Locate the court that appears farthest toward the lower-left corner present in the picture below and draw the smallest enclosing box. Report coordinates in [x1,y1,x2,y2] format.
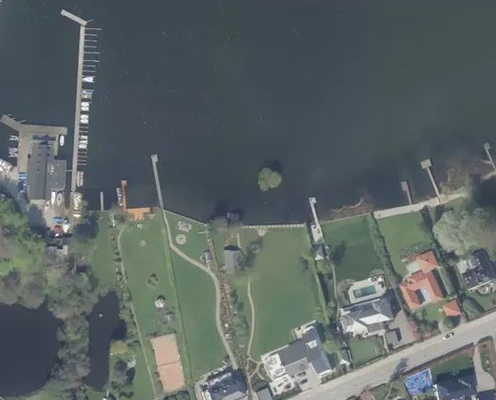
[150,334,184,391]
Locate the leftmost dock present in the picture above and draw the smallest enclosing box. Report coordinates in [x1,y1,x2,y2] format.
[0,114,67,174]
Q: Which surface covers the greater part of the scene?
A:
water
